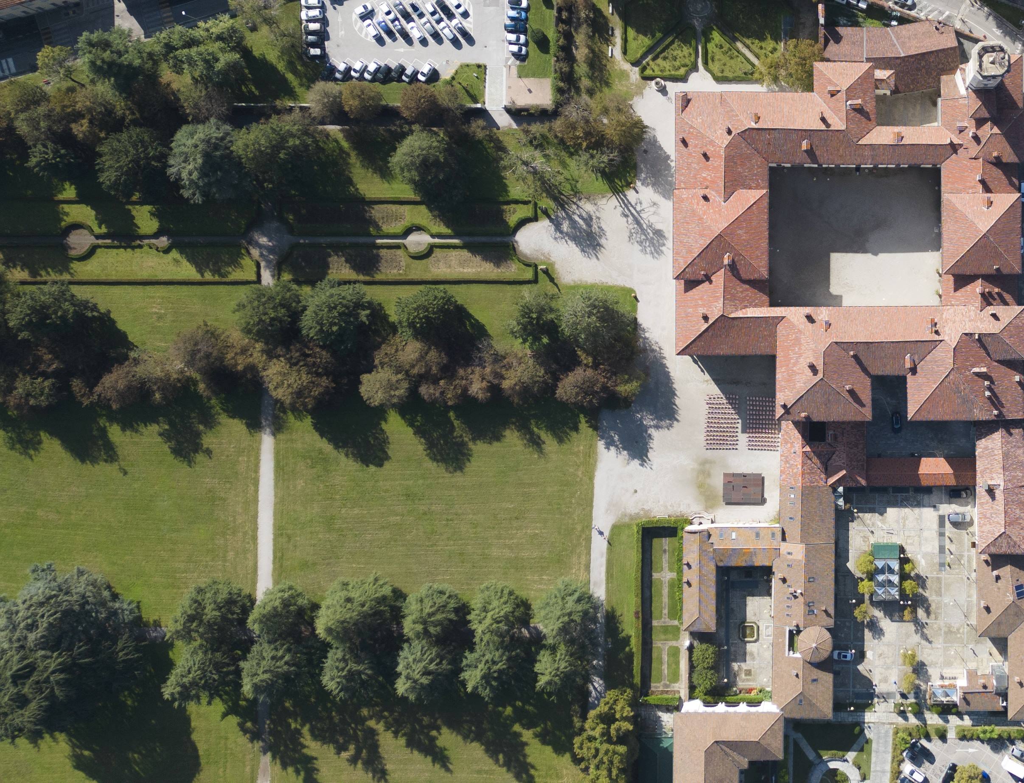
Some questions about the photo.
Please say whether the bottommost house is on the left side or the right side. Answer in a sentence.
It is on the right.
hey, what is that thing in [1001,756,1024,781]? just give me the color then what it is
white vehicle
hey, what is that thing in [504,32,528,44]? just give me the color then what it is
white vehicle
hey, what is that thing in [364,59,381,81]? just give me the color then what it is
white car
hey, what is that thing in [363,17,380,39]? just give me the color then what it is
white car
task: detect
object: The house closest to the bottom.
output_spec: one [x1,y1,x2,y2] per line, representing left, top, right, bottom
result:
[673,700,784,783]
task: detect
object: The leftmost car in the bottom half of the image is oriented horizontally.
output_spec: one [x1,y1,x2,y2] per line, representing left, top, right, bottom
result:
[832,650,856,662]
